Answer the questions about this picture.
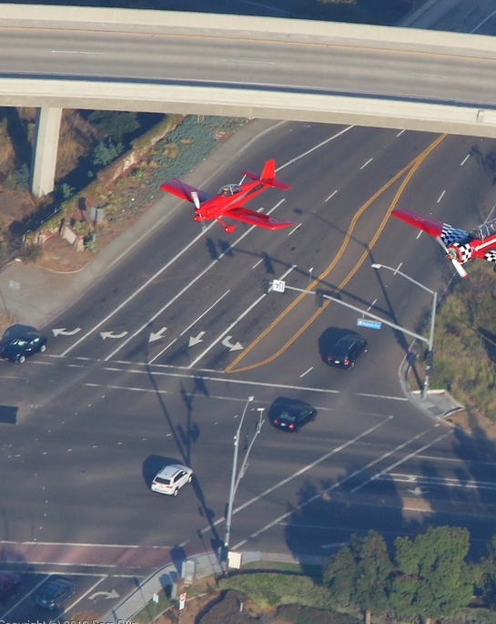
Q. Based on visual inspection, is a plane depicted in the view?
Yes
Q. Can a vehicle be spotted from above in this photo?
Yes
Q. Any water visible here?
No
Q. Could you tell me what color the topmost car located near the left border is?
blue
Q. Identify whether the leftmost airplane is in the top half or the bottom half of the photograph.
top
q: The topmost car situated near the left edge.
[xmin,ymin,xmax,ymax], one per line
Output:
[0,325,47,359]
